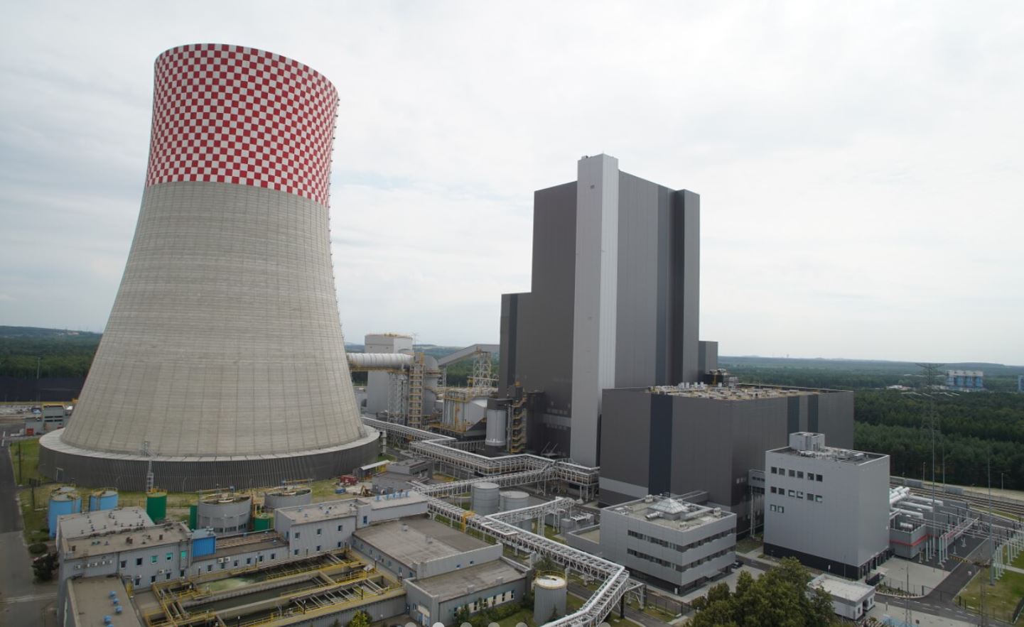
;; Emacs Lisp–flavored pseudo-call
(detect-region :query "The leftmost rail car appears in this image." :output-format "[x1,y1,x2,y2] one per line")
[905,476,932,488]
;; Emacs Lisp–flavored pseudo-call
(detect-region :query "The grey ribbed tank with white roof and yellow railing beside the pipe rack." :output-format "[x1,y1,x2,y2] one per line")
[531,563,570,623]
